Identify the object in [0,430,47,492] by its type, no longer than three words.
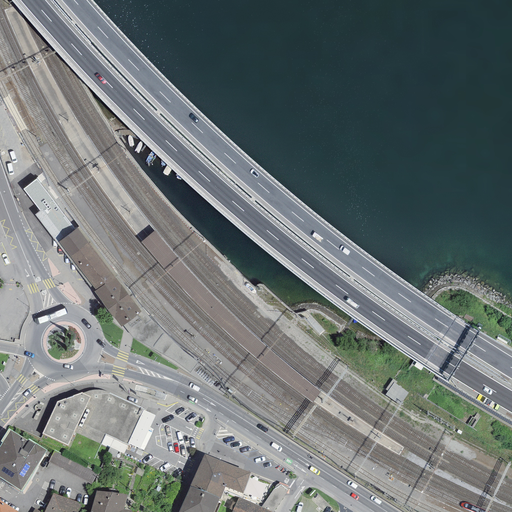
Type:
house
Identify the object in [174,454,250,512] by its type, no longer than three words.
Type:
house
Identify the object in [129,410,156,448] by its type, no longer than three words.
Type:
building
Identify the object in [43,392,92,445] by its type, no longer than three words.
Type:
building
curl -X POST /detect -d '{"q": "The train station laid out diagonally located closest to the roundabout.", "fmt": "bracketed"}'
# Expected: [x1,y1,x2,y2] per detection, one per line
[57,228,140,326]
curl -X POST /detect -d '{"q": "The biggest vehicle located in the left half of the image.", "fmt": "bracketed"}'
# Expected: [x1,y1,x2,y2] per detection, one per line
[36,307,68,324]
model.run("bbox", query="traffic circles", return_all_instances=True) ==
[22,300,104,382]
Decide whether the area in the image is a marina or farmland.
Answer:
marina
